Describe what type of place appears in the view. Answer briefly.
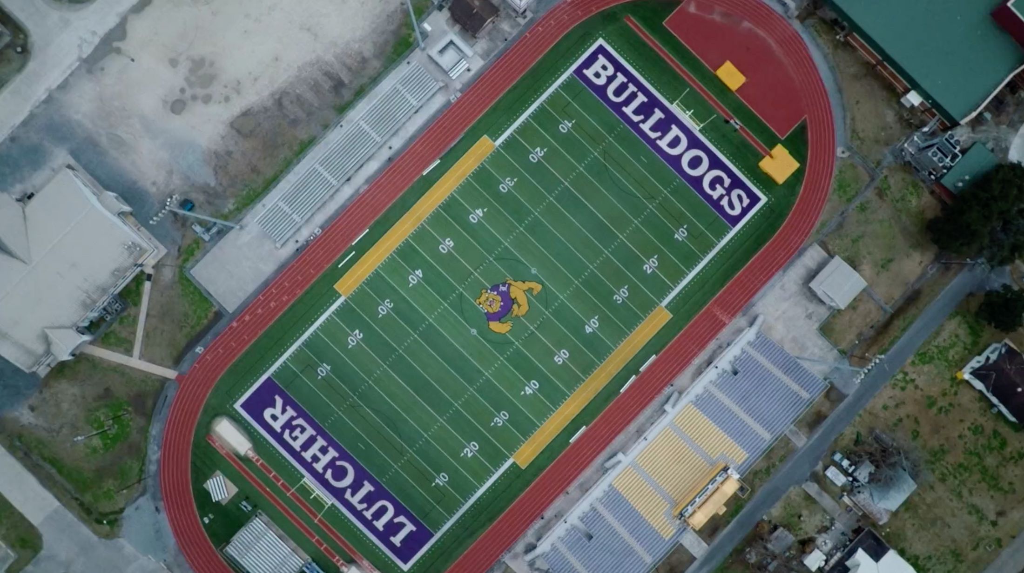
sports ground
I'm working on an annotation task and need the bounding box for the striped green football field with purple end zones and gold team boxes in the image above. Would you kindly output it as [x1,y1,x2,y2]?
[191,0,806,573]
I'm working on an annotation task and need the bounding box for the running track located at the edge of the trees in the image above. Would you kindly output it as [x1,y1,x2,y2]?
[160,0,835,573]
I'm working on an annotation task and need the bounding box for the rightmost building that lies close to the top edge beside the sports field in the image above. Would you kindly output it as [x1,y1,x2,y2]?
[813,0,1024,130]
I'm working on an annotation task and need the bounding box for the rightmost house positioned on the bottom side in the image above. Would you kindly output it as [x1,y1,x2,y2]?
[961,337,1024,422]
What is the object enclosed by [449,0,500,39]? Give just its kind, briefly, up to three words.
shed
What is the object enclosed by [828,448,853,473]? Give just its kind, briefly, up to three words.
truck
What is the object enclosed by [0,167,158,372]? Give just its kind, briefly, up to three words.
building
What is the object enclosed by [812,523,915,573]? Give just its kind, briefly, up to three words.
house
